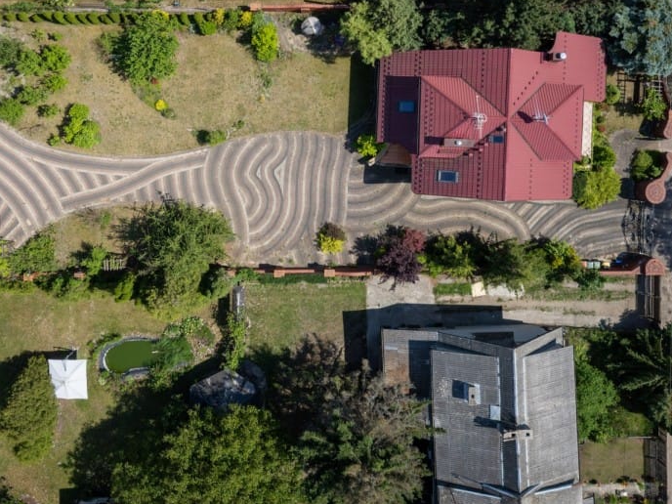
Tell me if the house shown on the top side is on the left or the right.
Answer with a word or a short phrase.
right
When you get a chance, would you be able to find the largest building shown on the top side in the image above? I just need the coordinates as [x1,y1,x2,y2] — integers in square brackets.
[374,33,608,202]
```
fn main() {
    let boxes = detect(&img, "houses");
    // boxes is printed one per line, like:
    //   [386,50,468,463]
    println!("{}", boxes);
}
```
[374,33,608,202]
[381,317,578,504]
